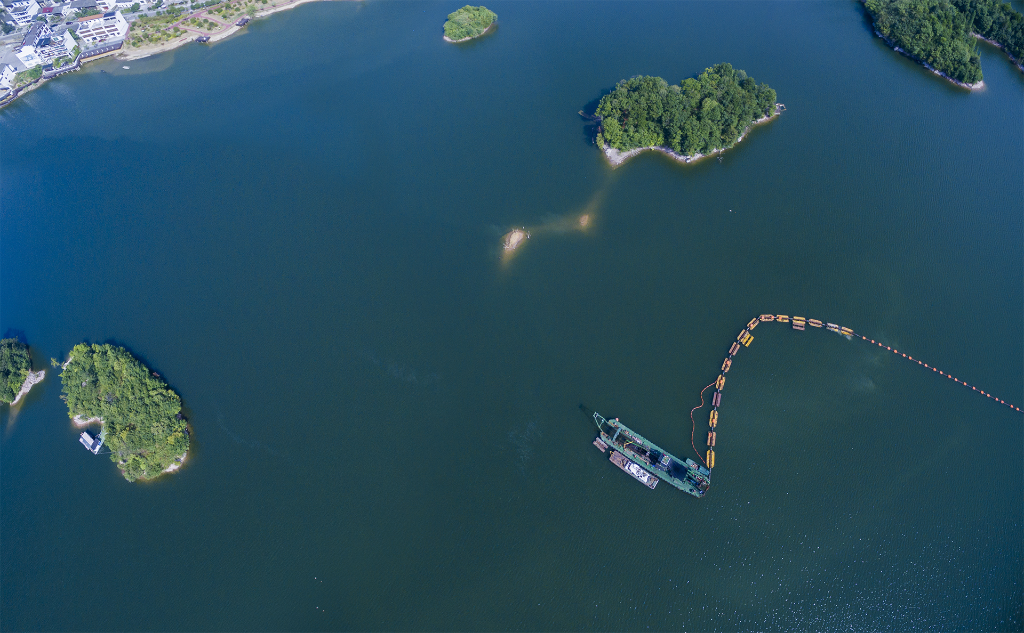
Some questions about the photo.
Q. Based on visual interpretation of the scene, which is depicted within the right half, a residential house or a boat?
boat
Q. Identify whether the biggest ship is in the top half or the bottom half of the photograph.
bottom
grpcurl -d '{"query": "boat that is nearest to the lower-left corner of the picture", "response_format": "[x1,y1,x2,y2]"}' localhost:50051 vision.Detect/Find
[79,432,105,455]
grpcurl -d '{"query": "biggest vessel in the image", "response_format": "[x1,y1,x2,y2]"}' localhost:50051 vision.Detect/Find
[593,411,709,501]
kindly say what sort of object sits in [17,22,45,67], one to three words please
house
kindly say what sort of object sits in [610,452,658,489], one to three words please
ship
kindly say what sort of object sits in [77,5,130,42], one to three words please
building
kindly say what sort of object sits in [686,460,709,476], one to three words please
boat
